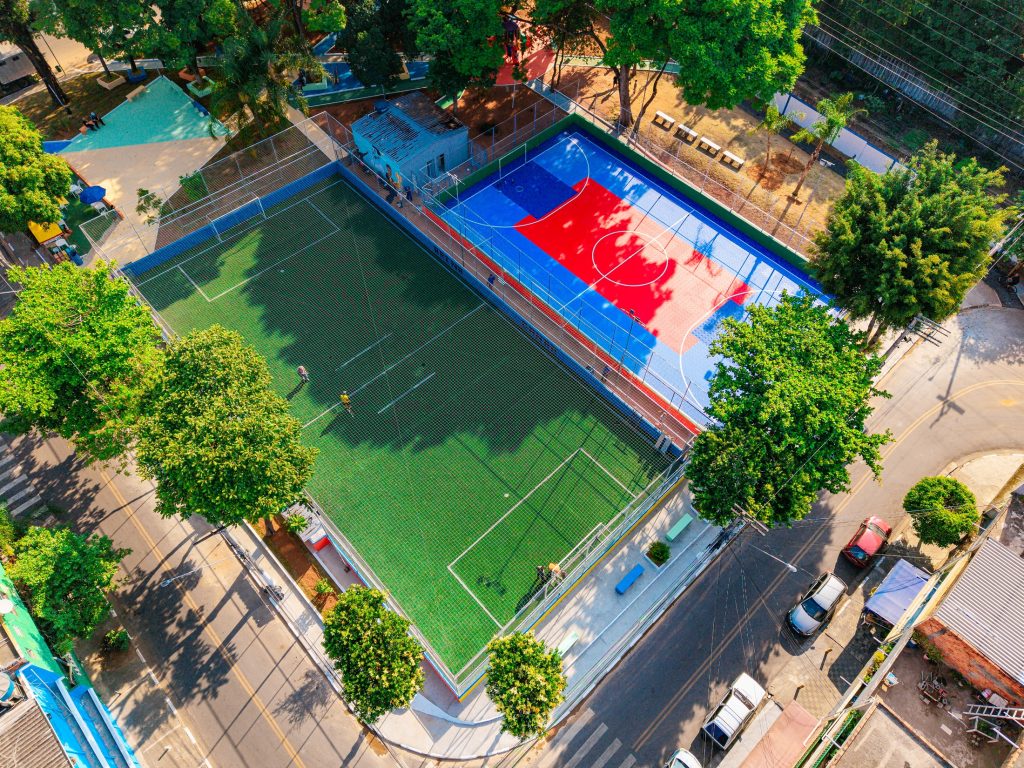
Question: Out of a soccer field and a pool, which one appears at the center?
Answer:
soccer field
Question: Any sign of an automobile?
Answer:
Yes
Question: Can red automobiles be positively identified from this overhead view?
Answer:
Yes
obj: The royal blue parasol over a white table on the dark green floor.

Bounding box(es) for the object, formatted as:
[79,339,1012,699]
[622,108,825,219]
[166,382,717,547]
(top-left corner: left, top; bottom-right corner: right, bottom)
[75,185,112,215]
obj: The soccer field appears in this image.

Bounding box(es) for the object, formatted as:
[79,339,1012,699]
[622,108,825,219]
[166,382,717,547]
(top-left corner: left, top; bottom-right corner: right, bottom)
[127,172,680,686]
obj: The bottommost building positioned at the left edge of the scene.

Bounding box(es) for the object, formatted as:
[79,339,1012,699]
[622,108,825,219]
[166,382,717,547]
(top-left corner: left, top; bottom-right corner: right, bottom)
[0,669,144,768]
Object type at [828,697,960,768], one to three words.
house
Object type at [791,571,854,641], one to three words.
car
